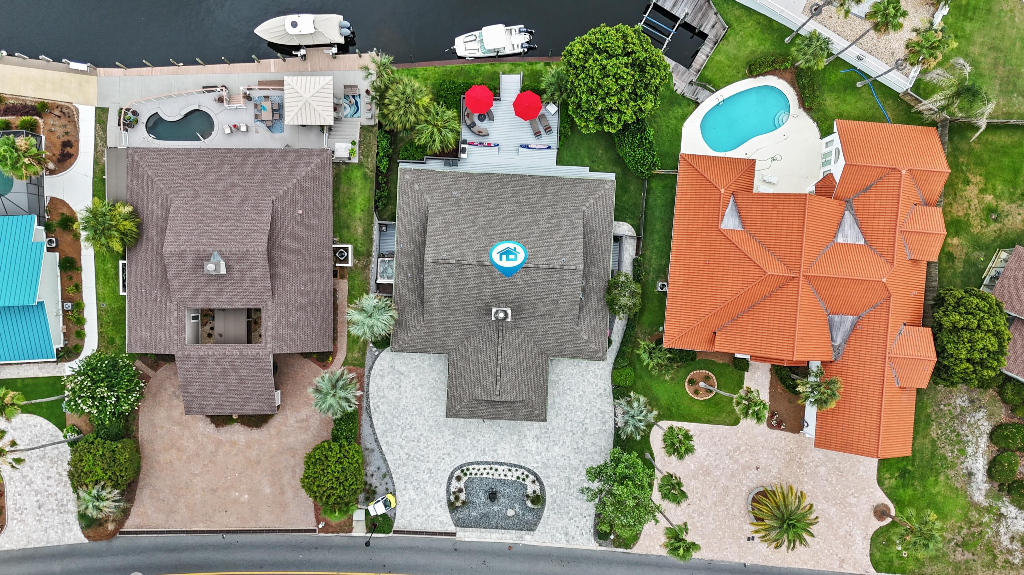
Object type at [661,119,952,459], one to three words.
house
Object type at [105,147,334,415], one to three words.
house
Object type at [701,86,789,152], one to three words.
swimming pool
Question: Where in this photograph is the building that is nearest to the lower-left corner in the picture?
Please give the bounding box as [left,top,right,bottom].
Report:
[0,214,68,364]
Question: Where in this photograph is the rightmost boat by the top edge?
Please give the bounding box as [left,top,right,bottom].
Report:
[447,21,540,58]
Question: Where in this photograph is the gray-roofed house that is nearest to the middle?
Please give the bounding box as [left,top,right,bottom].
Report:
[389,166,616,423]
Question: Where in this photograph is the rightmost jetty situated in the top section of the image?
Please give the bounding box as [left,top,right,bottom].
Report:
[654,0,728,96]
